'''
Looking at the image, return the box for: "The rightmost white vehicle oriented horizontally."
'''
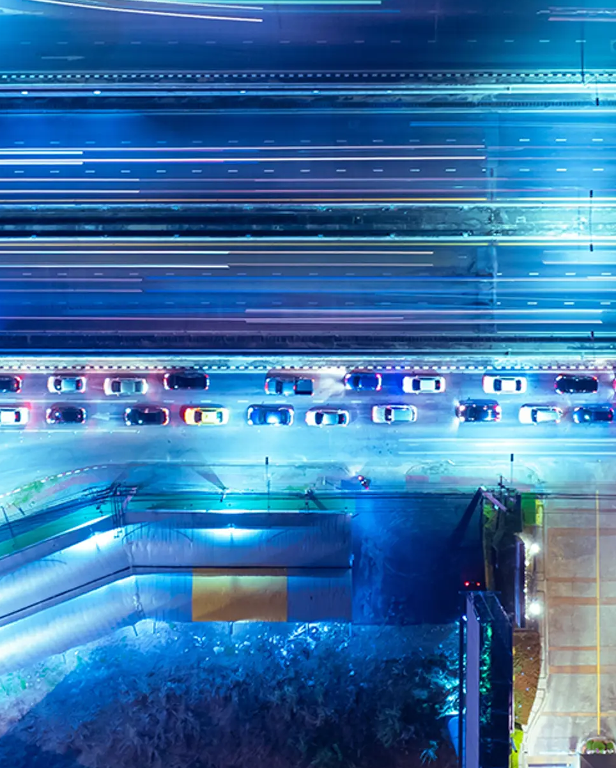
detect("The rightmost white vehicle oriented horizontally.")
[520,405,563,425]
